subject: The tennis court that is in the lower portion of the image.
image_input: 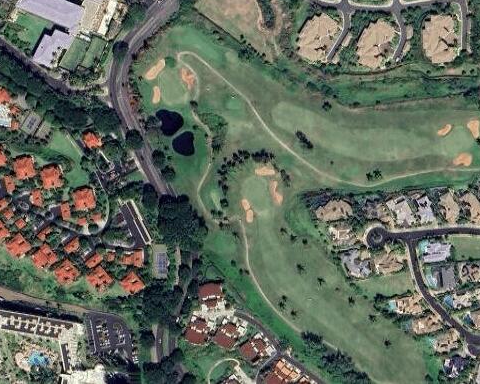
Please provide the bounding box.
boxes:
[153,242,170,279]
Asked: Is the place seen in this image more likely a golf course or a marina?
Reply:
golf course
